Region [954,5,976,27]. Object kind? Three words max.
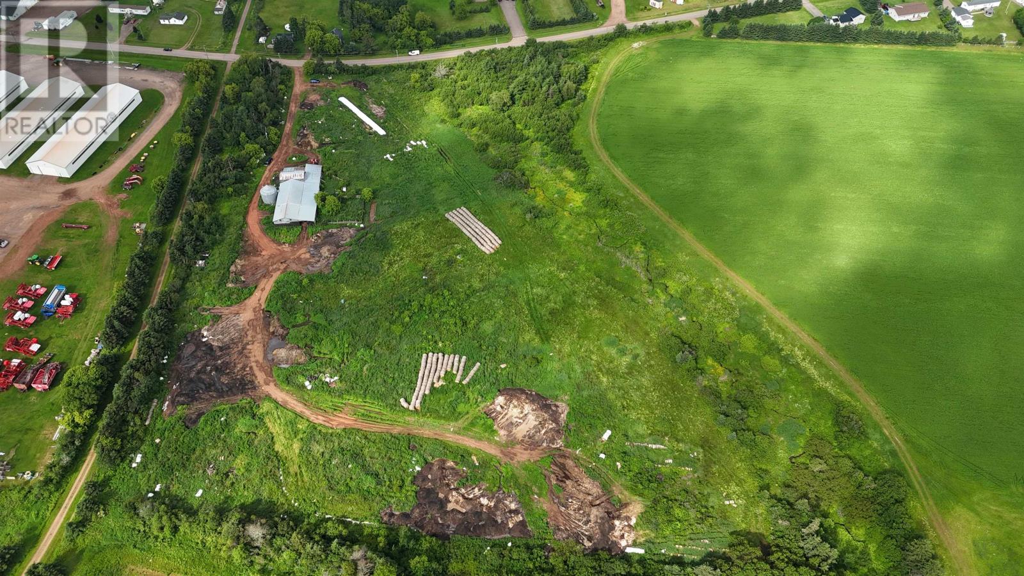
building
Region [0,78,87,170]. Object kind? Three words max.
shed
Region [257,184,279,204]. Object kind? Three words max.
silo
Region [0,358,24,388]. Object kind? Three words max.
work vehicle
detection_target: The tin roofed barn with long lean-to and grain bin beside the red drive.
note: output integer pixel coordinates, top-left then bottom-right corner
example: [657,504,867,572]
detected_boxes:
[273,164,322,230]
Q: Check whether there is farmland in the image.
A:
Yes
